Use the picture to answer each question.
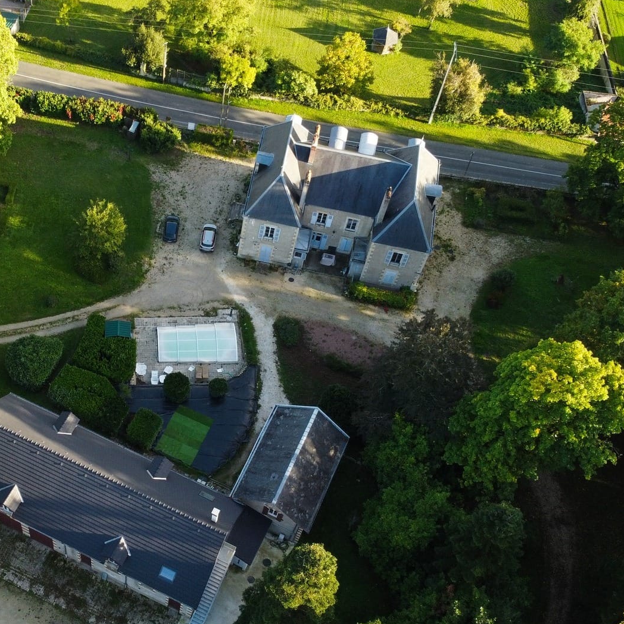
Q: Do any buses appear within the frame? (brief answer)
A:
No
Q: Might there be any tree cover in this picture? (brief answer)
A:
Yes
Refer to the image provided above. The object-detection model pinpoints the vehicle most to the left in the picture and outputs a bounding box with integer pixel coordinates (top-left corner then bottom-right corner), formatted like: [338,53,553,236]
[163,213,181,241]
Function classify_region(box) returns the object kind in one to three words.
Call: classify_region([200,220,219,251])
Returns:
car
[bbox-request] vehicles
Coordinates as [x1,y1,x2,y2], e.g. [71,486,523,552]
[163,213,181,241]
[200,220,219,251]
